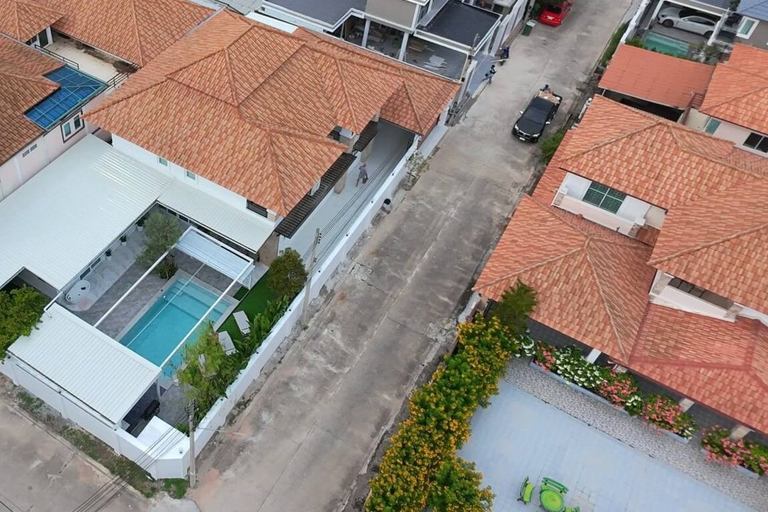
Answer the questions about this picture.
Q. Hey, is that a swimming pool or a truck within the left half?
swimming pool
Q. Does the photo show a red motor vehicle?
Yes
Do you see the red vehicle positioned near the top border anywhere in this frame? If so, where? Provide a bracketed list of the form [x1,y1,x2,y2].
[540,0,574,21]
